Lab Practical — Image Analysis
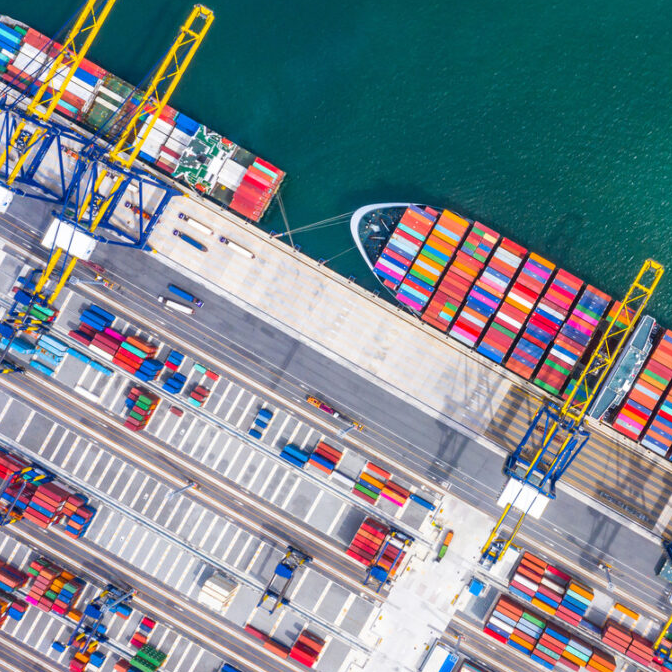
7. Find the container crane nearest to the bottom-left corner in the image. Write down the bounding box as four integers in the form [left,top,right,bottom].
[60,584,133,656]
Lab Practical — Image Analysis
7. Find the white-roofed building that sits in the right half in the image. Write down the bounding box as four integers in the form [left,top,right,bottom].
[421,641,459,672]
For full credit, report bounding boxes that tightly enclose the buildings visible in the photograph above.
[463,573,489,596]
[421,641,459,672]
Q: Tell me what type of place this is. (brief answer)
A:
port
